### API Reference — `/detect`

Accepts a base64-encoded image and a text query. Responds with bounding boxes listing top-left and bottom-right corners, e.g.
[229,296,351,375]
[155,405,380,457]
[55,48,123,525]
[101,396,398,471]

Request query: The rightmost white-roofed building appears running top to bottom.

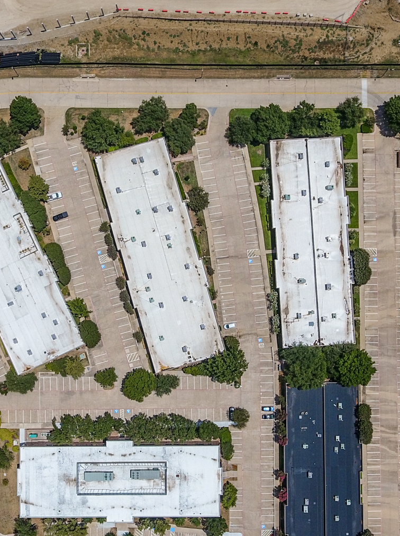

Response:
[268,136,356,348]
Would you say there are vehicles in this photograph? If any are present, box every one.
[229,405,234,419]
[47,191,62,201]
[261,413,274,420]
[52,212,69,221]
[223,322,236,330]
[261,406,274,411]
